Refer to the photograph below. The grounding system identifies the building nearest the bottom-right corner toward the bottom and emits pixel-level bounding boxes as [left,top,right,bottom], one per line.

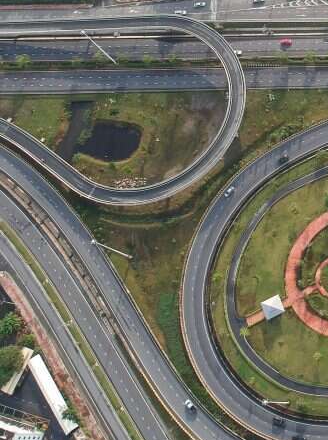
[261,294,285,320]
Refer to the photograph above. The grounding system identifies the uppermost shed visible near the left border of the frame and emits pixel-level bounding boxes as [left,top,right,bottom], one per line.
[1,348,37,394]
